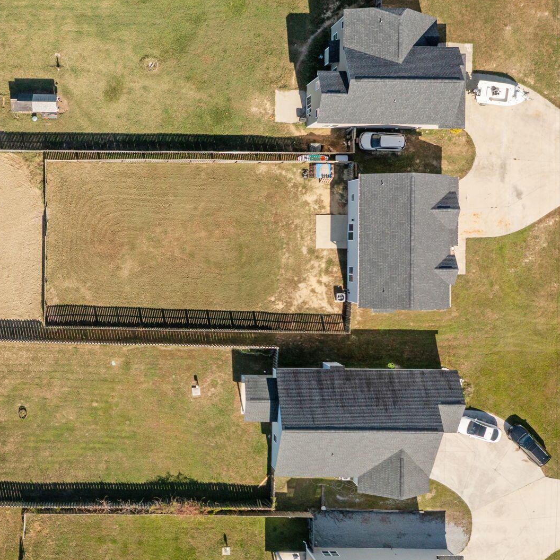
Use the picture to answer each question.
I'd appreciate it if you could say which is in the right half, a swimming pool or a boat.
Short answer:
boat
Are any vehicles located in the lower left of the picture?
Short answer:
No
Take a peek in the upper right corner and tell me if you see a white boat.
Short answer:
Yes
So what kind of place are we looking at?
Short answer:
residential area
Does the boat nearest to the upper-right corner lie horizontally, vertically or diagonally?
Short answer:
horizontally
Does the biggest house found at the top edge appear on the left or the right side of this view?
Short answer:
right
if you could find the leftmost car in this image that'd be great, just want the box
[358,129,406,152]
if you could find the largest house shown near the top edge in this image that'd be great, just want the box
[305,7,466,130]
